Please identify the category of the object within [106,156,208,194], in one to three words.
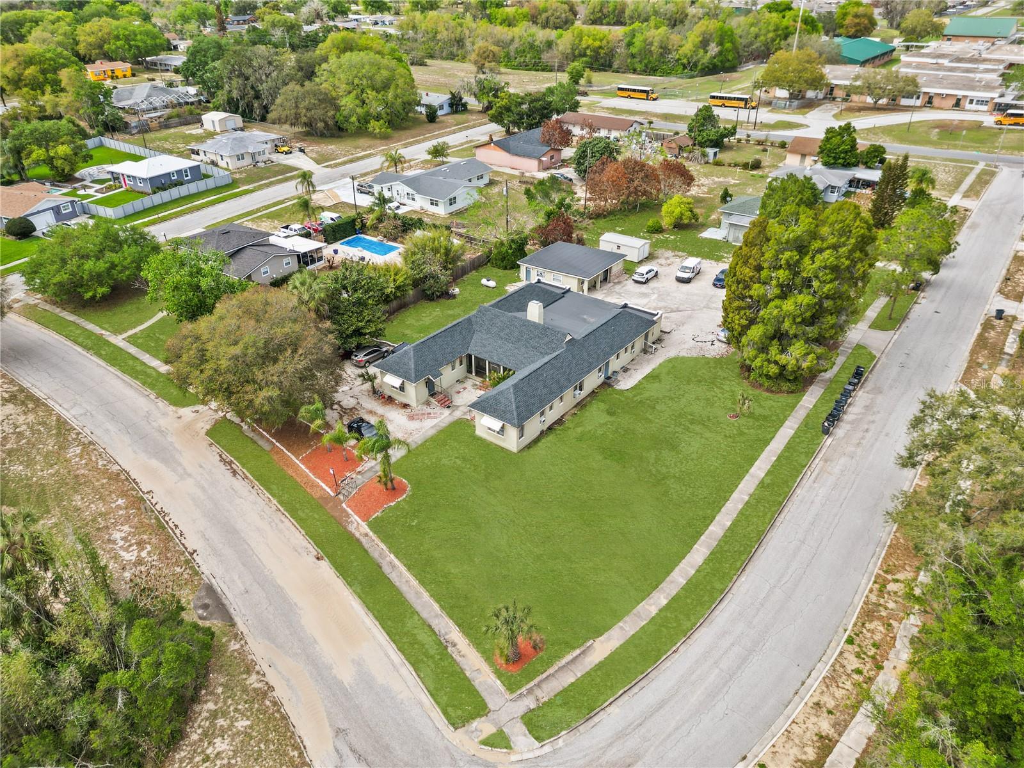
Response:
house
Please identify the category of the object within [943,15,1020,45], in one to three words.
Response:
building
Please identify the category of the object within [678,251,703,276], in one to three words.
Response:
vehicle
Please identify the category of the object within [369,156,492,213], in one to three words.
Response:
house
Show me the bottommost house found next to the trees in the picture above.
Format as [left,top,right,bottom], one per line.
[371,276,664,451]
